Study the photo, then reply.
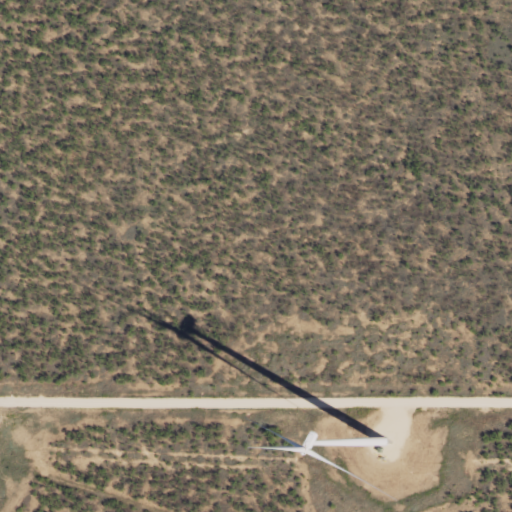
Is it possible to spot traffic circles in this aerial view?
No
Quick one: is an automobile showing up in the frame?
No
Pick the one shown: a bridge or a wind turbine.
wind turbine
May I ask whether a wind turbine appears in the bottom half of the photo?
Yes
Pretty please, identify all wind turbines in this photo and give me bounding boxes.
[248,422,394,500]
